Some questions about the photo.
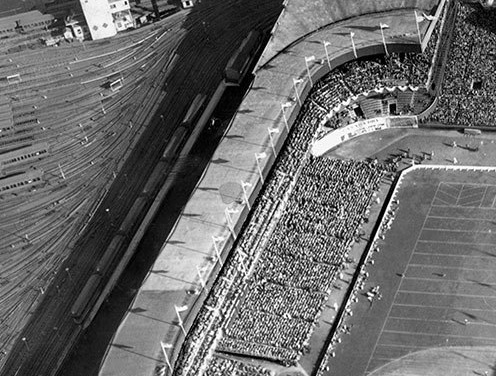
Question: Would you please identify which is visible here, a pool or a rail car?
rail car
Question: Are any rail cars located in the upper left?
Yes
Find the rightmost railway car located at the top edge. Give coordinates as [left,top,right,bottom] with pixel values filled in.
[16,7,59,32]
